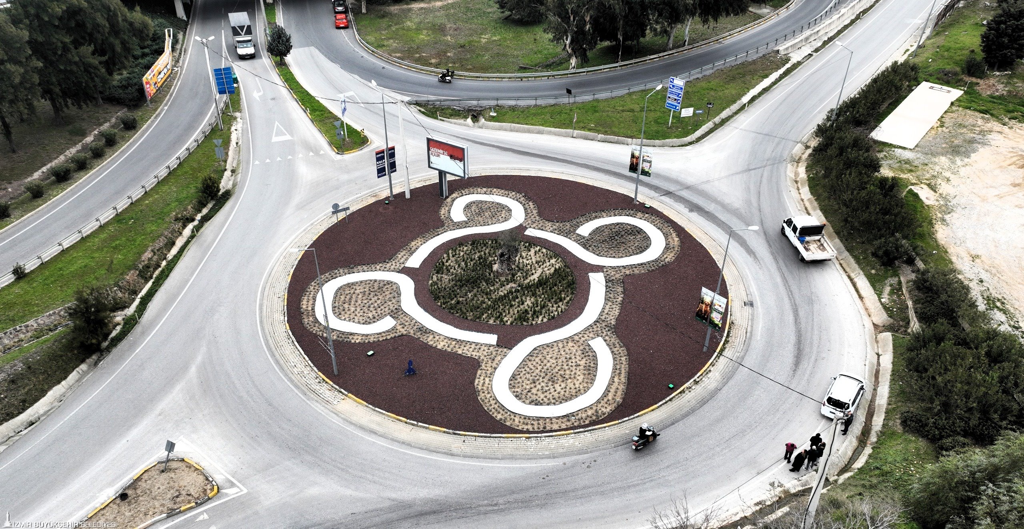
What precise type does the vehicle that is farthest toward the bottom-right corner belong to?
automobile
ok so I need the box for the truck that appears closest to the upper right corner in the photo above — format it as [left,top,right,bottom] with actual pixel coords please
[779,217,835,265]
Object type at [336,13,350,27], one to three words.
car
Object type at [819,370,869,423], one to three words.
car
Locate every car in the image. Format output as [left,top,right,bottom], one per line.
[334,0,348,11]
[819,370,869,423]
[336,13,350,27]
